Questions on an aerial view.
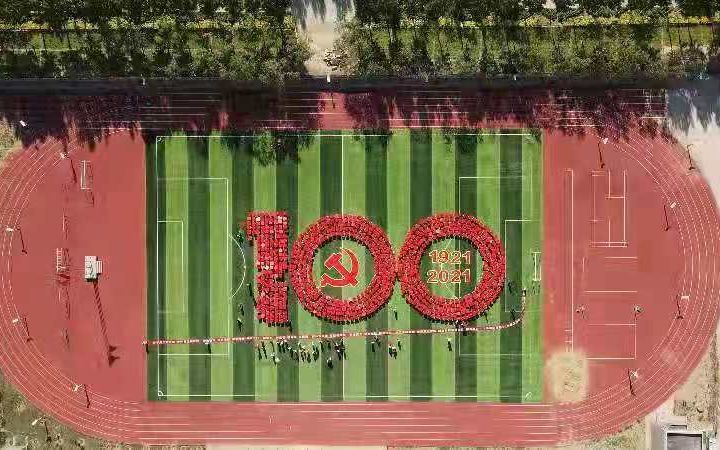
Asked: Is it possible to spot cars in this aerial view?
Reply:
No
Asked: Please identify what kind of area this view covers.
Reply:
sports ground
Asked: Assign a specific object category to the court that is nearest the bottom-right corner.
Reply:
basketball court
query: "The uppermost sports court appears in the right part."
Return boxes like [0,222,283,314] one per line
[589,169,629,248]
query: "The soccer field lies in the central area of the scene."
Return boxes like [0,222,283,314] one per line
[144,130,545,402]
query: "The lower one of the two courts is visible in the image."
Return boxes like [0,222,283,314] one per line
[581,254,640,361]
